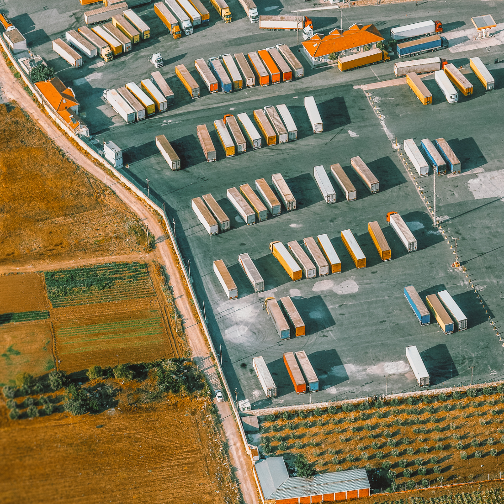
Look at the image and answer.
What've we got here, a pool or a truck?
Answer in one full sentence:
There is a truck in the scene.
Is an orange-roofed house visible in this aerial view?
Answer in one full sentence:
Yes, this view includes an orange-roofed house.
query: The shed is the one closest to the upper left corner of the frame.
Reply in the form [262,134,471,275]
[4,28,26,53]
